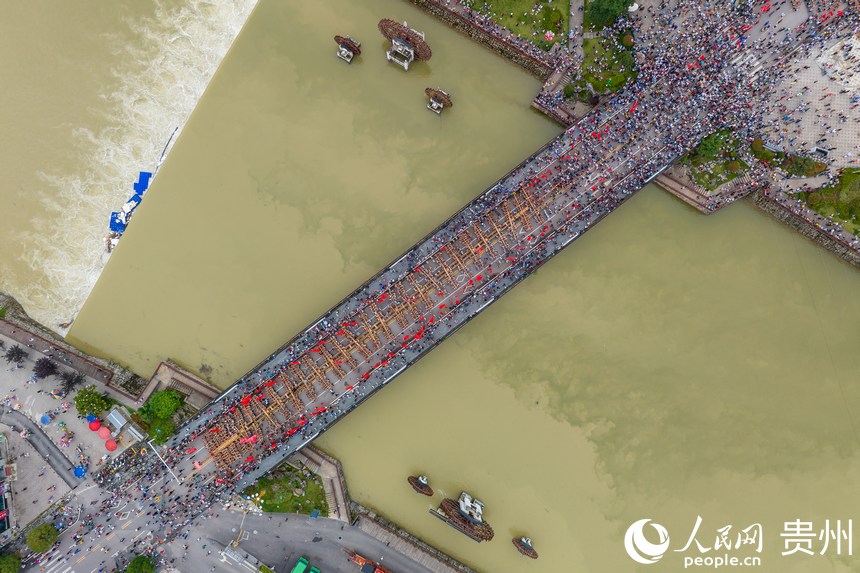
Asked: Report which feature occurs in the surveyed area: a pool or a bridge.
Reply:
bridge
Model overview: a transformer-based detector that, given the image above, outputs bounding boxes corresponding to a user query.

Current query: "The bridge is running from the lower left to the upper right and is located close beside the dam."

[178,98,670,497]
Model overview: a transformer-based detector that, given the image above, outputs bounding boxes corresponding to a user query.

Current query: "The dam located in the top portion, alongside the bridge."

[56,0,259,339]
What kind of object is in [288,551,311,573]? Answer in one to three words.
bus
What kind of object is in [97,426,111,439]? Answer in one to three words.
umbrella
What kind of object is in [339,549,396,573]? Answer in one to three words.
truck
